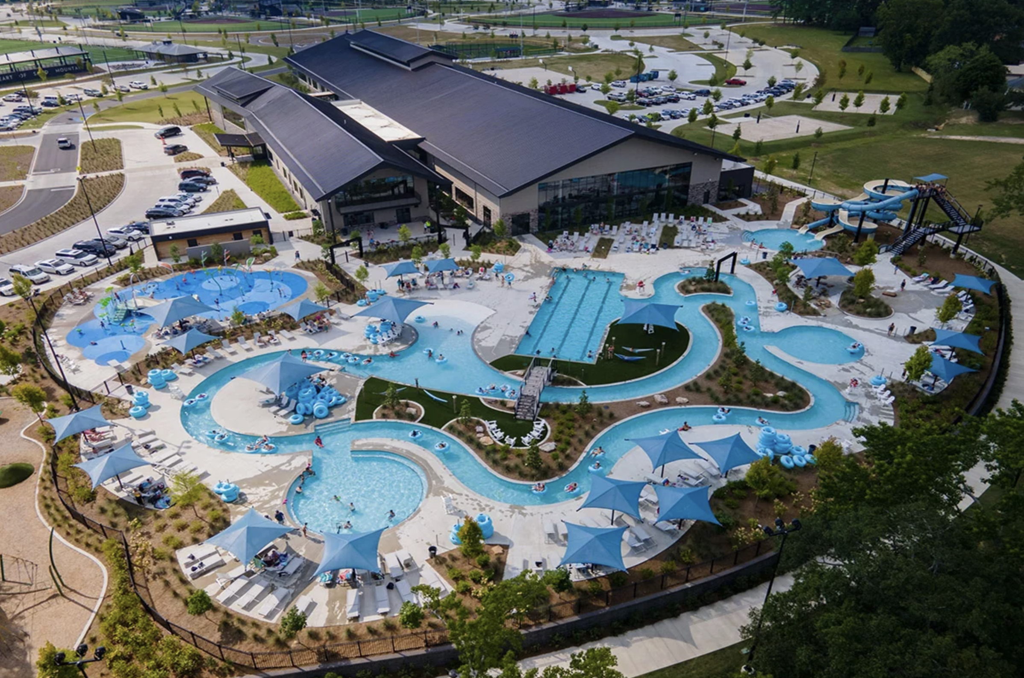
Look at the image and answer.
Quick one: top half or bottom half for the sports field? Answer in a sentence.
The top half of the photo is where the sports field is.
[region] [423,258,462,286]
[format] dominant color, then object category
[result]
blue umbrella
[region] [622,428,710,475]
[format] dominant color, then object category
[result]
blue umbrella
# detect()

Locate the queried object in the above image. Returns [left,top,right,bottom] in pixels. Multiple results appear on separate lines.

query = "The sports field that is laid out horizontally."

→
[0,0,771,75]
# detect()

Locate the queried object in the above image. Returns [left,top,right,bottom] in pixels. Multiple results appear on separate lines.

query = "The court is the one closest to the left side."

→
[428,43,563,58]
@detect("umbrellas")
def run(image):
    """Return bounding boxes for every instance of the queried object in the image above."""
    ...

[275,298,333,330]
[574,474,648,523]
[67,441,159,494]
[134,294,219,331]
[378,261,425,291]
[688,432,764,480]
[556,519,631,576]
[154,327,225,364]
[229,350,337,400]
[423,258,462,286]
[307,526,390,583]
[931,344,982,387]
[41,403,120,450]
[786,257,857,289]
[948,273,999,305]
[201,506,302,575]
[622,428,710,475]
[613,300,683,336]
[648,483,725,532]
[348,295,437,331]
[927,327,986,357]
